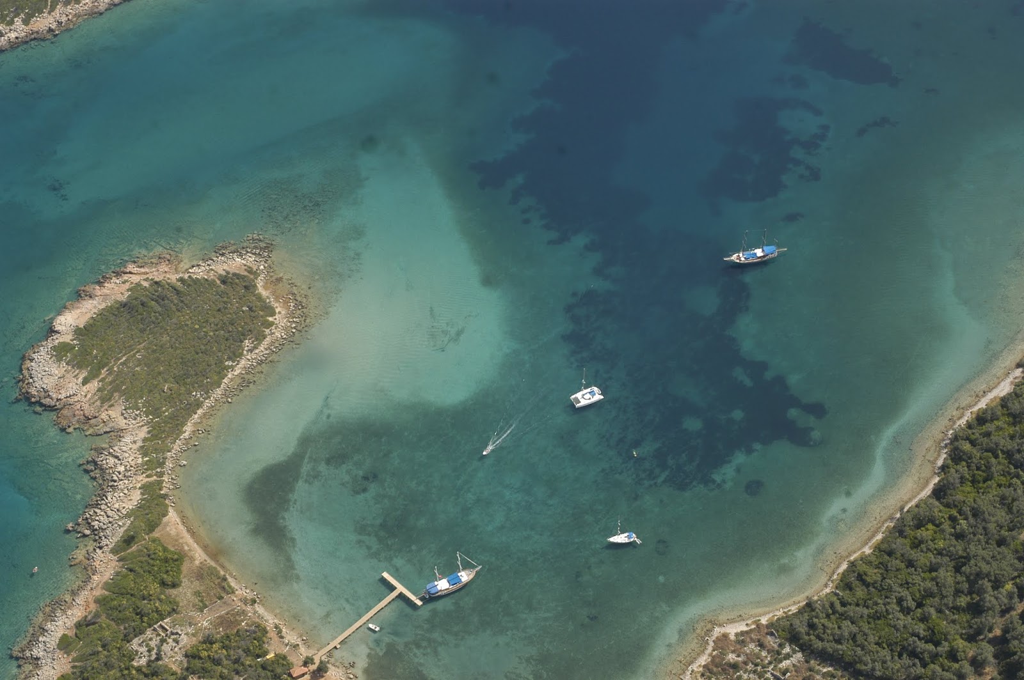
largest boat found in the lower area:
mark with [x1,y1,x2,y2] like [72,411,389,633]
[413,555,483,603]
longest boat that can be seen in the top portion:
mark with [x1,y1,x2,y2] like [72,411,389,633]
[725,228,788,262]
